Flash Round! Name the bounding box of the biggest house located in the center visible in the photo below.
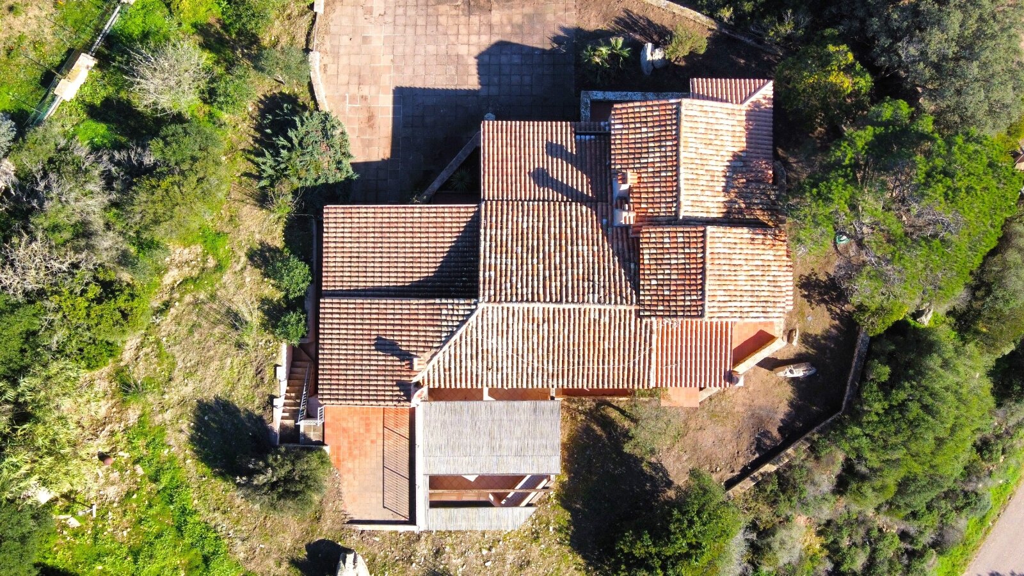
[315,75,798,408]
